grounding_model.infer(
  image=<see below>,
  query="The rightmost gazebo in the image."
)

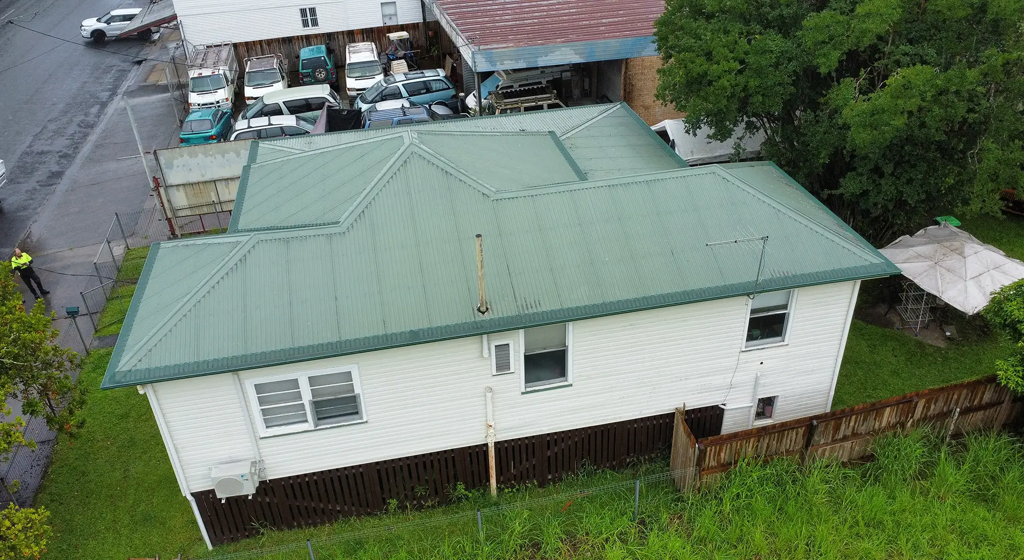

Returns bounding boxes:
[879,218,1024,341]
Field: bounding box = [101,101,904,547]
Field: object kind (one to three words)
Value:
house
